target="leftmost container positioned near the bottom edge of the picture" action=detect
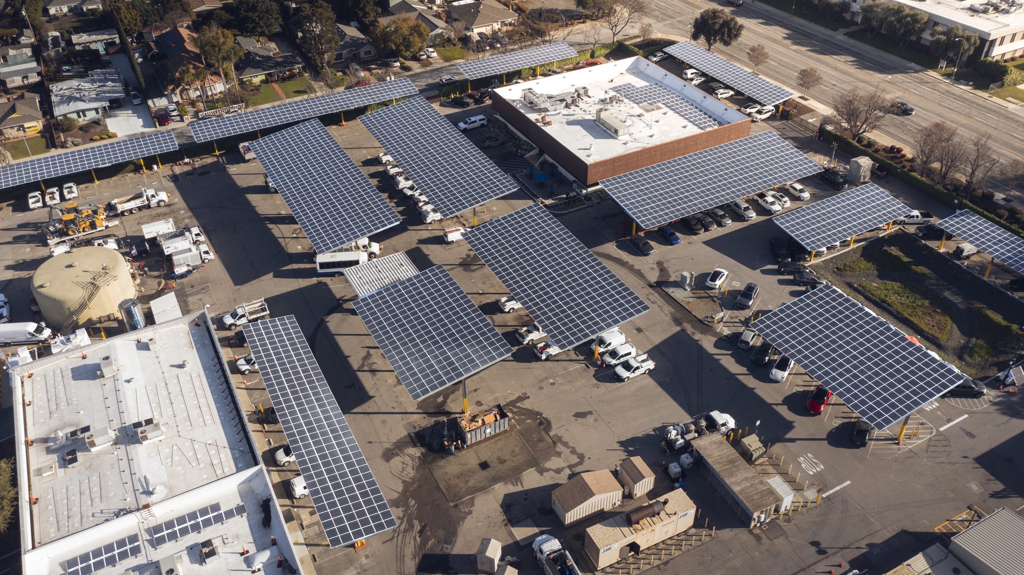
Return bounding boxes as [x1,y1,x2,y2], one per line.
[586,486,697,572]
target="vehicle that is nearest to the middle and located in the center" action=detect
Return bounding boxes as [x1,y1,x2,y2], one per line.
[490,294,523,317]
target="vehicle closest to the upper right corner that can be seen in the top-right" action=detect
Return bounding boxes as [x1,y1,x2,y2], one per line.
[890,102,916,116]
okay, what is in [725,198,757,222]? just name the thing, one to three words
car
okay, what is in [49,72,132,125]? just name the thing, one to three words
house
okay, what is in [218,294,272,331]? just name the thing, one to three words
truck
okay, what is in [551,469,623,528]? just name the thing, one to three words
shed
